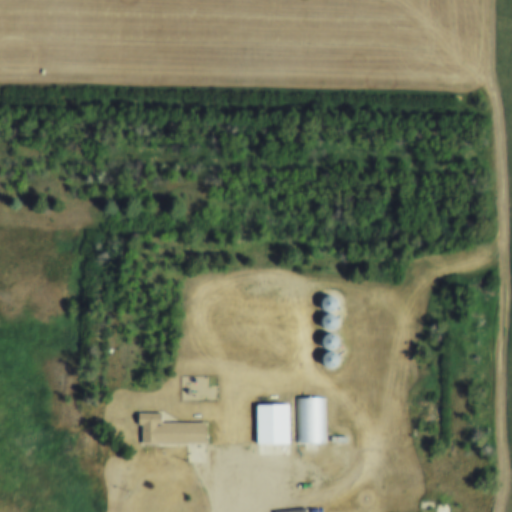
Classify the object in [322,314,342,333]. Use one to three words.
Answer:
silo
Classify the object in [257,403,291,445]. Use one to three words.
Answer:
barn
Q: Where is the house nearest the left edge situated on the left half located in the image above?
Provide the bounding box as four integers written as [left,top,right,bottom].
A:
[139,413,208,446]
